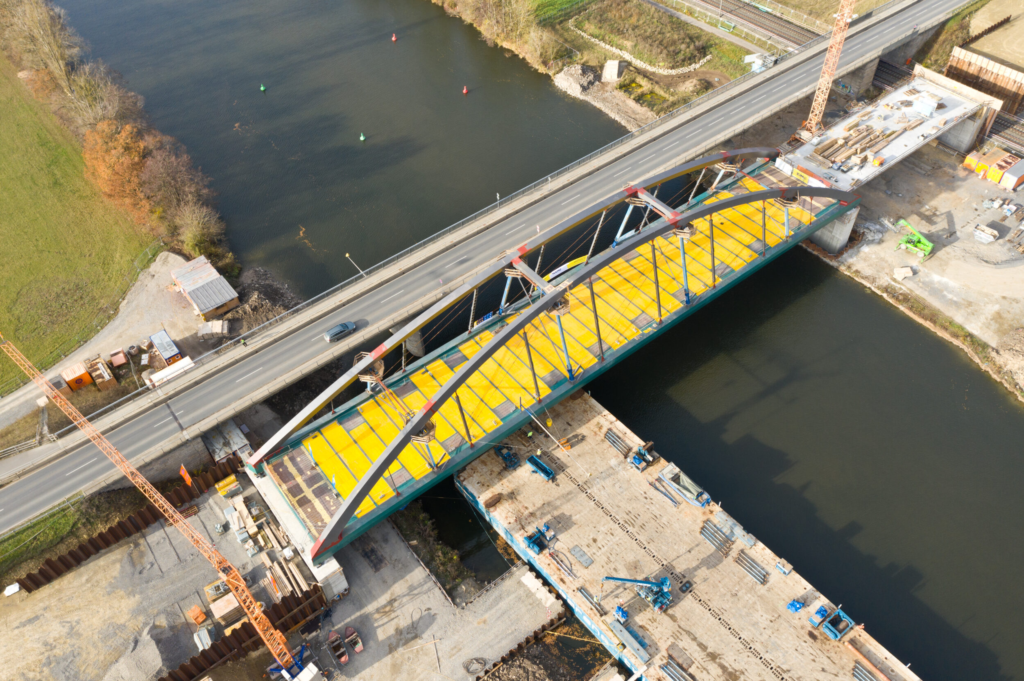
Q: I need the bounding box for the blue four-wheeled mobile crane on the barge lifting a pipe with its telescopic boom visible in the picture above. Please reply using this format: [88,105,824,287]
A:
[599,571,676,615]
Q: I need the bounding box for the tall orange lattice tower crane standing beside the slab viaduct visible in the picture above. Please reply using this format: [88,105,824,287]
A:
[788,0,855,139]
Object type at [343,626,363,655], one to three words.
boat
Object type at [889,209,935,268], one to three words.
work vehicle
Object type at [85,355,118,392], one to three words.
shipping container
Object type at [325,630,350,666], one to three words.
boat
